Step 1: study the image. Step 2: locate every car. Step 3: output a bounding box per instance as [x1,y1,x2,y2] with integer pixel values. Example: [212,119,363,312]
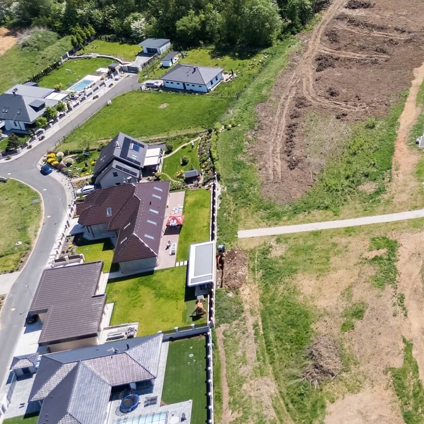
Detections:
[144,78,163,87]
[74,184,97,196]
[36,164,56,174]
[15,313,41,326]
